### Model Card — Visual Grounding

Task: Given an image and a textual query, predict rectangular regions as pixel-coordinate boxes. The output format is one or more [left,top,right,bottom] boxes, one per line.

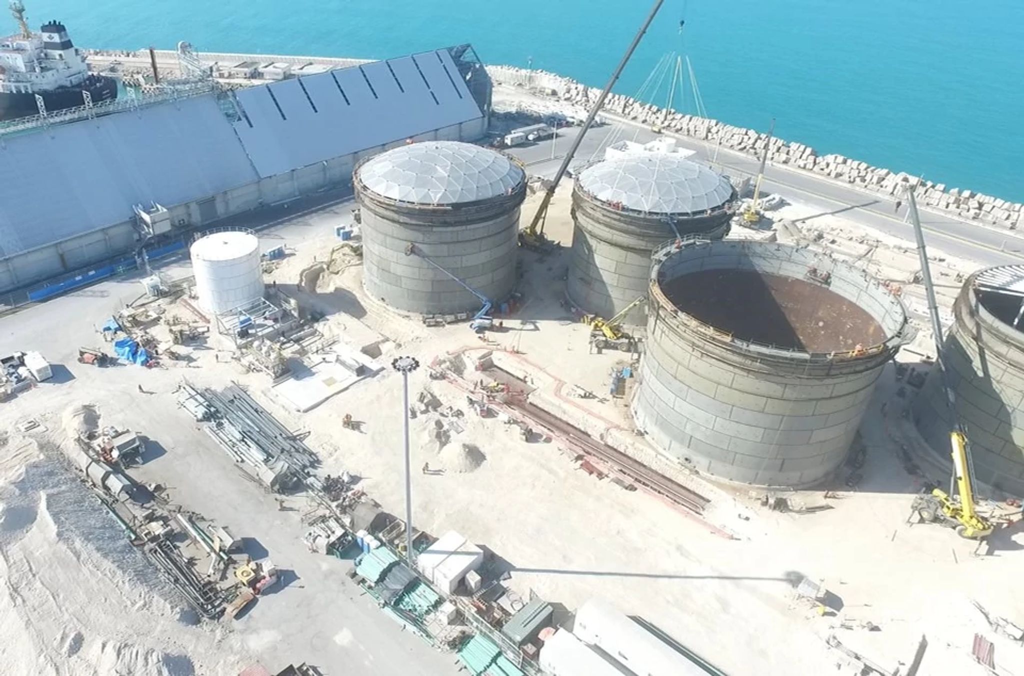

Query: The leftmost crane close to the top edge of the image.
[520,0,683,261]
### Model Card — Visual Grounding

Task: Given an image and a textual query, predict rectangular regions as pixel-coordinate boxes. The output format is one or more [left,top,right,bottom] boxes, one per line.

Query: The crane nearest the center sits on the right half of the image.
[585,297,646,363]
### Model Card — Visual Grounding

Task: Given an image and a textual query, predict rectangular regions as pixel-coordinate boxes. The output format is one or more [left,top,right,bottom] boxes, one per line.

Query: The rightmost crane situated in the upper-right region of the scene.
[735,118,776,230]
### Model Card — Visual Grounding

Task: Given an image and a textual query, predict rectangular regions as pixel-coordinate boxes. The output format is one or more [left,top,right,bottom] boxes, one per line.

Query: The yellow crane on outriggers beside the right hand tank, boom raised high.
[896,179,1015,571]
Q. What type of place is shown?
industrial area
